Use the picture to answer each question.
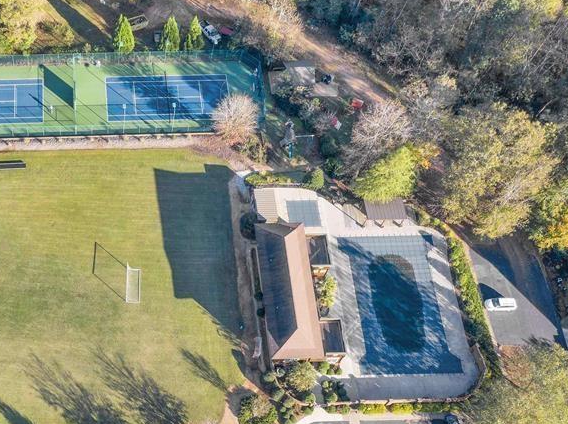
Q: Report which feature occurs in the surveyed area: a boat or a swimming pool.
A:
swimming pool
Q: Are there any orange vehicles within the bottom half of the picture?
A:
No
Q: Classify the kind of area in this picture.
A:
sports ground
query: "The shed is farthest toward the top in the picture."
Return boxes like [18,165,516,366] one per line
[284,55,320,83]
